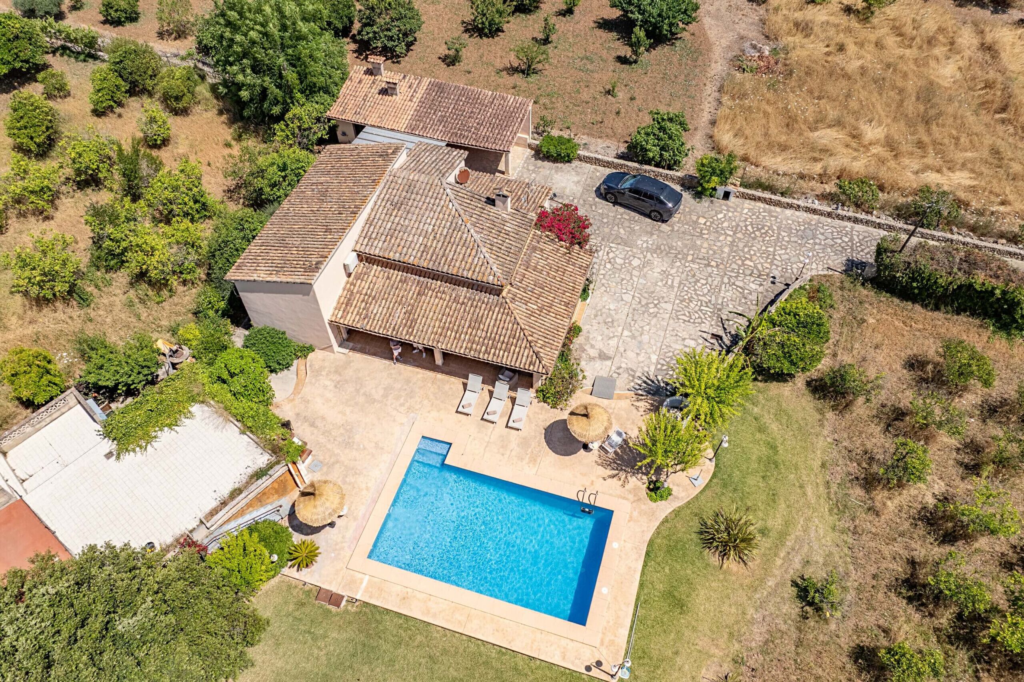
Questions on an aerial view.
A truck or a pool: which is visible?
pool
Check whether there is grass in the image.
Yes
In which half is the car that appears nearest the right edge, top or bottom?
top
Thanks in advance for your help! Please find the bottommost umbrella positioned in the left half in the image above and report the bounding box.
[294,482,347,532]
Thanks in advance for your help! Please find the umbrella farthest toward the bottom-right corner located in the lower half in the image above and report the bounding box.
[567,407,612,455]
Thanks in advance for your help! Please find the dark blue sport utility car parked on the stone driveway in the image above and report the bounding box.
[599,170,687,223]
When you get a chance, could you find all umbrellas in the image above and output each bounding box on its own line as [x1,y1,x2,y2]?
[567,407,612,455]
[294,482,347,532]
